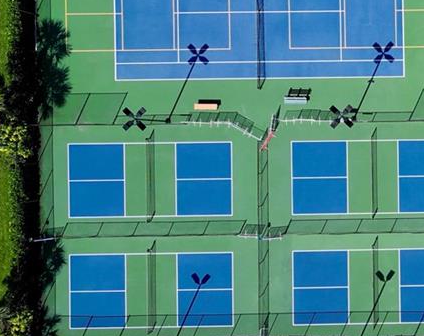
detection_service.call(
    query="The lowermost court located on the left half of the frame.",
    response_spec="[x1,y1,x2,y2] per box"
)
[69,252,234,329]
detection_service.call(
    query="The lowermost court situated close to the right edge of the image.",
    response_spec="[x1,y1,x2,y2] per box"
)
[292,248,424,325]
